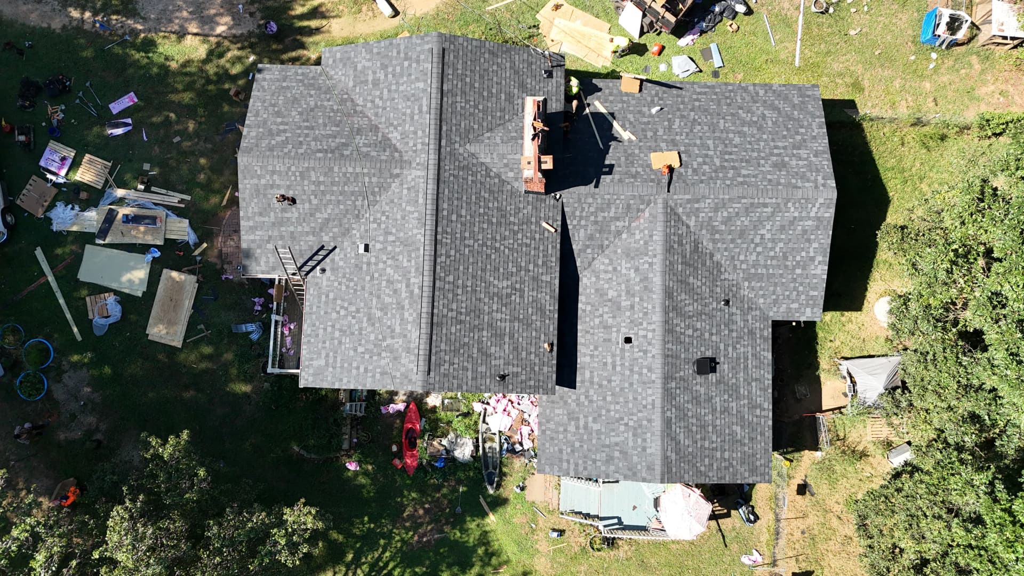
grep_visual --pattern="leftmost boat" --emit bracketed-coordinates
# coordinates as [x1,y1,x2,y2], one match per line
[401,404,421,475]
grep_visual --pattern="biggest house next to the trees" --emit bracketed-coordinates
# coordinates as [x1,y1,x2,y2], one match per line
[238,31,837,485]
